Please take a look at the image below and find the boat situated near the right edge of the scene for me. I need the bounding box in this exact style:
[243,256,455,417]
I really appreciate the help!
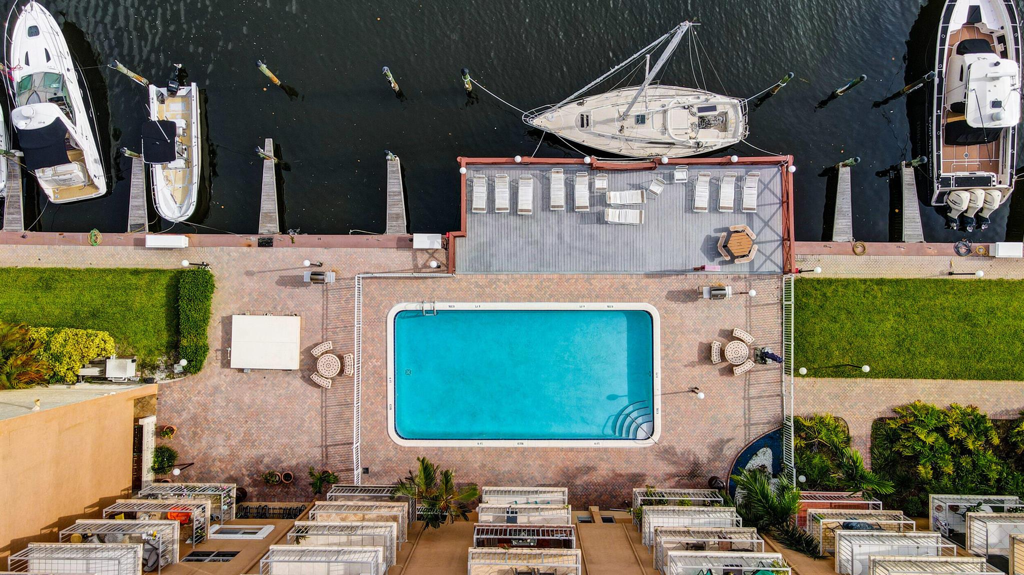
[923,0,1021,234]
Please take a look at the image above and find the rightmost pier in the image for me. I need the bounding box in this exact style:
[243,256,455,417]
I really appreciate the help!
[894,167,925,242]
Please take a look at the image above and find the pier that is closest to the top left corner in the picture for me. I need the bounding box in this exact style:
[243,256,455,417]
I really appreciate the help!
[2,150,34,231]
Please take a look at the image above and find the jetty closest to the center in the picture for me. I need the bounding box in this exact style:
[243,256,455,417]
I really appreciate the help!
[385,158,408,234]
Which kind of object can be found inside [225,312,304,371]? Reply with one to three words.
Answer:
shed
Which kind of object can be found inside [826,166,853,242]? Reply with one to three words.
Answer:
pier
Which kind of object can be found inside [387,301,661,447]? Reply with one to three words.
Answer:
swimming pool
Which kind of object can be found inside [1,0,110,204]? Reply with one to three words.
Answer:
boat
